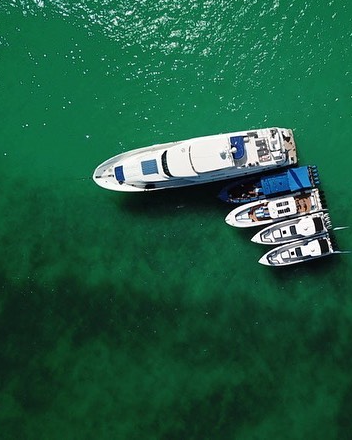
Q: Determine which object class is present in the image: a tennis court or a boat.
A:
boat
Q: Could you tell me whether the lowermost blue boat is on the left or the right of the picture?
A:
right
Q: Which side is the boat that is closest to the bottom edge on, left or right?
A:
right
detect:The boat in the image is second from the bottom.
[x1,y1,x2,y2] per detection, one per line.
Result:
[251,212,350,244]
